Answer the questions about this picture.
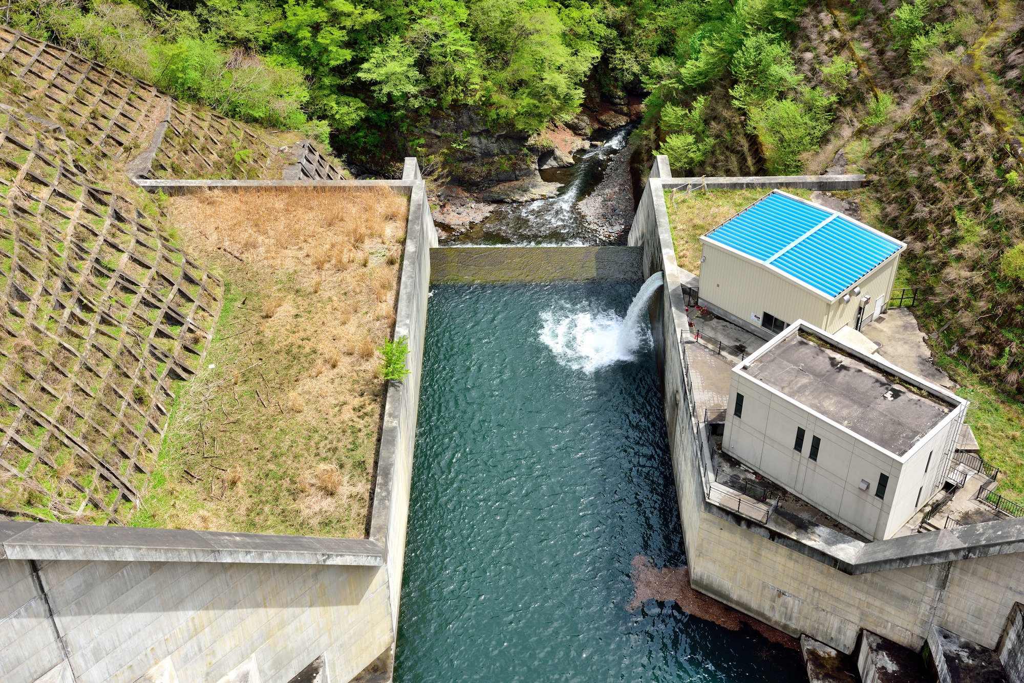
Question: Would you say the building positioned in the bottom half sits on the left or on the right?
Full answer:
It is on the right.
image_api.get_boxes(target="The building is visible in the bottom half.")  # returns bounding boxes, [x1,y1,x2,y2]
[721,321,976,542]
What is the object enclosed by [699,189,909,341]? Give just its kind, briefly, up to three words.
shed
